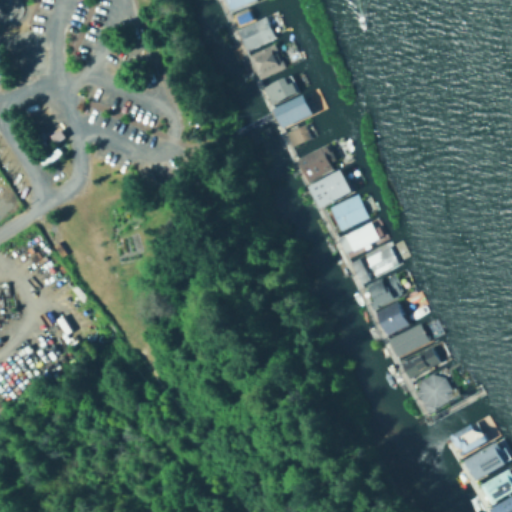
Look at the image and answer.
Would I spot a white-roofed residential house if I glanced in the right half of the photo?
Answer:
Yes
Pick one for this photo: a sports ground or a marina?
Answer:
marina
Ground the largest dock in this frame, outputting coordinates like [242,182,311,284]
[426,390,486,428]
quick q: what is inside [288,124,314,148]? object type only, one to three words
house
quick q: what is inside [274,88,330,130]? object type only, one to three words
house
